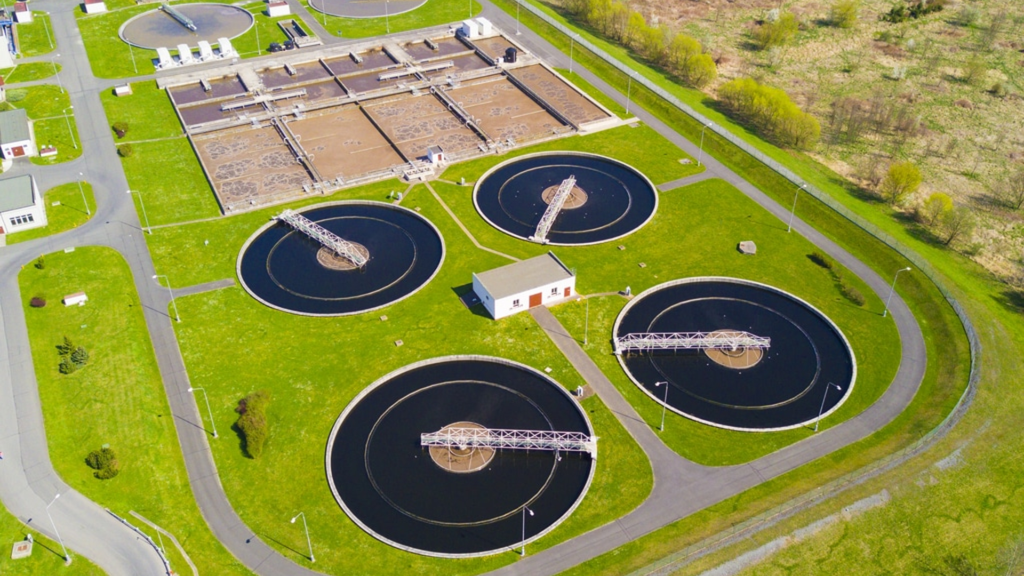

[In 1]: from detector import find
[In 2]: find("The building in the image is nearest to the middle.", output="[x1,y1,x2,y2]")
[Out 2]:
[471,245,576,319]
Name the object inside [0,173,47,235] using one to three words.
building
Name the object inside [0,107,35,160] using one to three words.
building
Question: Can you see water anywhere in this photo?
Yes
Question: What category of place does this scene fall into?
industrial area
